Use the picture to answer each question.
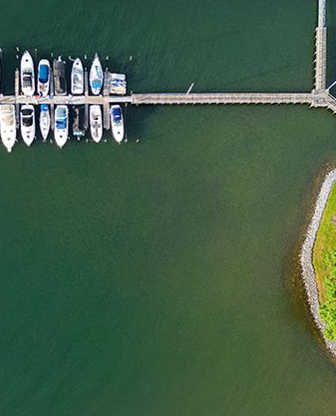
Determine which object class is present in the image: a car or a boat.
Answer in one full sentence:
Looking from above, you can make out a boat.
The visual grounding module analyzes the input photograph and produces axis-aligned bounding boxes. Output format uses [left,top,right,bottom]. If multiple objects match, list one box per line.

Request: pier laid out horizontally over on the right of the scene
[132,25,336,117]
